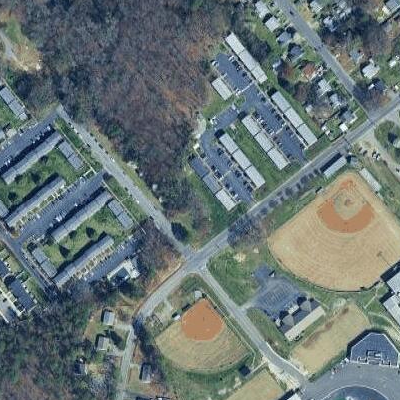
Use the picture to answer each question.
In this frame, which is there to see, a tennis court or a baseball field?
baseball field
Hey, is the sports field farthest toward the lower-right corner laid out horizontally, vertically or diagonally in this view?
diagonally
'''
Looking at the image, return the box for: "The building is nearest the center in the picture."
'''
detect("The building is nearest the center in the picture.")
[189,154,235,211]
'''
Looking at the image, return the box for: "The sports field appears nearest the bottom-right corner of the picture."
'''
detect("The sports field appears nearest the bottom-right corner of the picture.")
[290,302,369,376]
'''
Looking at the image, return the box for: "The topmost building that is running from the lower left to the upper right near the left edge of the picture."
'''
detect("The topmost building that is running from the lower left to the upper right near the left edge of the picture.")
[1,129,63,183]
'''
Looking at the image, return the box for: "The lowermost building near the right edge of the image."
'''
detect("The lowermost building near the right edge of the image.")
[350,333,400,368]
